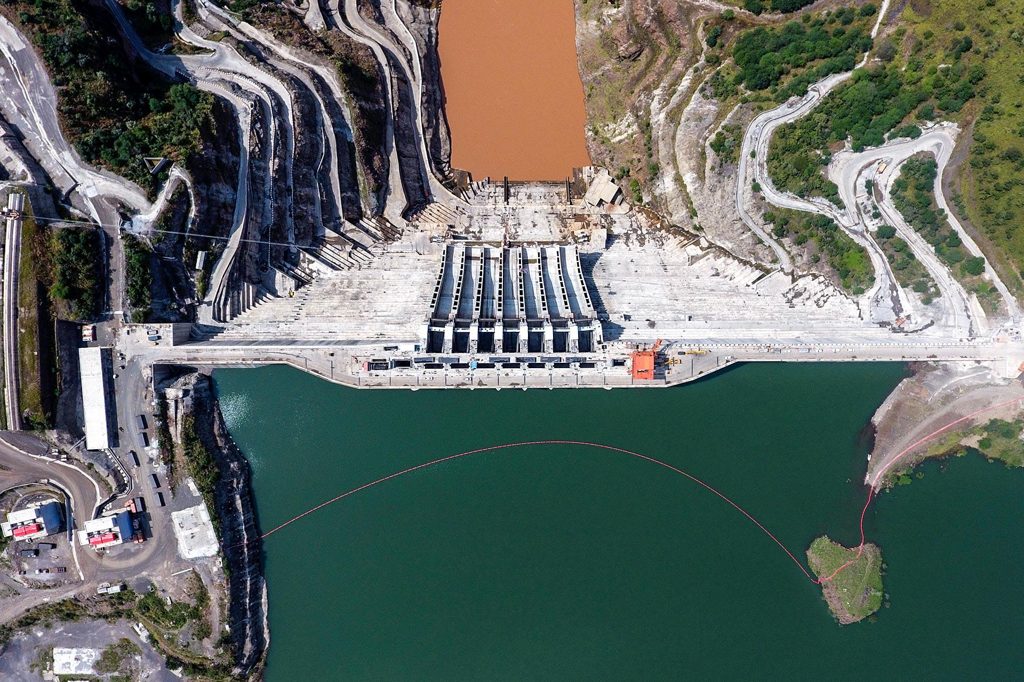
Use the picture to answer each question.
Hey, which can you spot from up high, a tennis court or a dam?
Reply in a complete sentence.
The one in the frame is a dam.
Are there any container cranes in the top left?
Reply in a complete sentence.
No, no container crane can be made out in the top left.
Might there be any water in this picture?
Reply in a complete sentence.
Yes, water can be seen from above here.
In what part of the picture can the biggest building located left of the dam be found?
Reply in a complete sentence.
The biggest building located left of the dam appears toward the left of the photo.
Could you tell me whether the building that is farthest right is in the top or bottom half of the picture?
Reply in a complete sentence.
You can find the building that is farthest right in the top half.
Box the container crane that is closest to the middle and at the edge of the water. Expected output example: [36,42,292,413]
[628,337,664,379]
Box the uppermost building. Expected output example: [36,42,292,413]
[581,172,631,210]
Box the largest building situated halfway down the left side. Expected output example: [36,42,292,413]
[79,347,116,450]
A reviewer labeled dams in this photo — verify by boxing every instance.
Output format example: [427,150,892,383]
[119,166,993,408]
